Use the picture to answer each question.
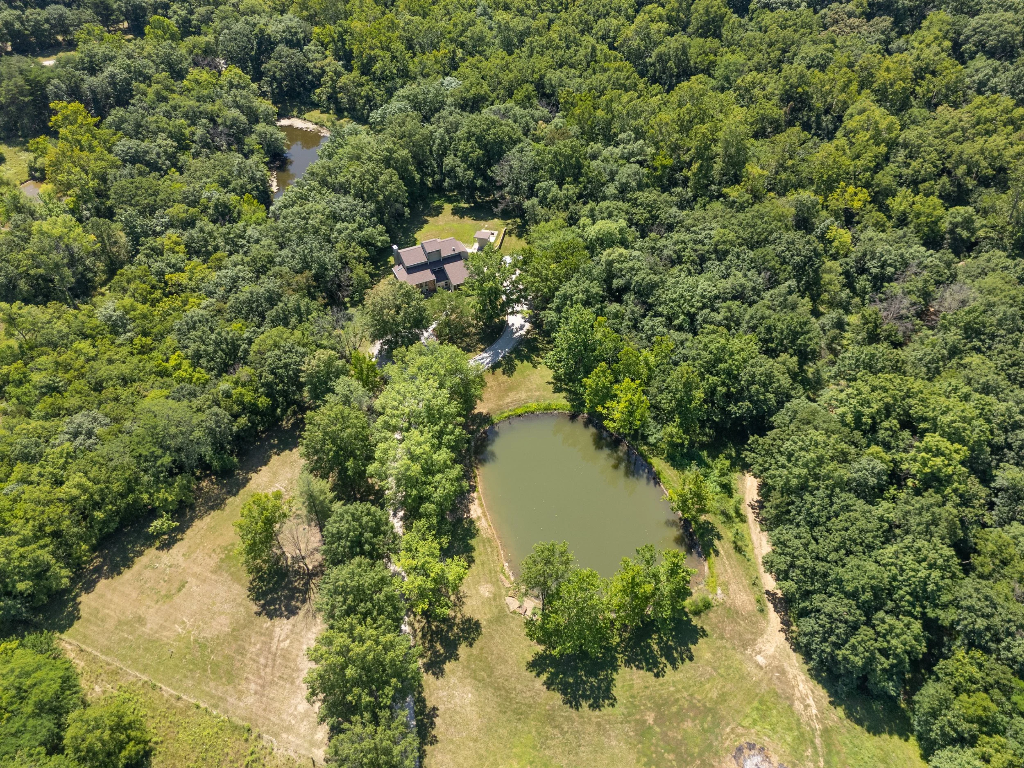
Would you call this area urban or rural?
rural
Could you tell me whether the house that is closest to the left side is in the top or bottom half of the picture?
top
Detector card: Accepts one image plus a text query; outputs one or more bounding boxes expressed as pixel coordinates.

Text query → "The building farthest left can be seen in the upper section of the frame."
[392,237,470,300]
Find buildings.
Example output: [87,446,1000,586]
[392,237,470,300]
[473,229,490,247]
